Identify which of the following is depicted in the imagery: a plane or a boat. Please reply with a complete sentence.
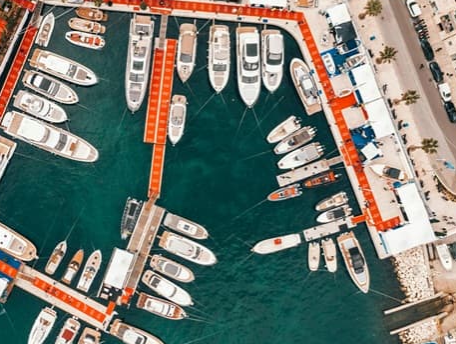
There is a boat in the scene.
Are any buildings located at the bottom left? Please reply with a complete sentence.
Yes, a building appears at the bottom left.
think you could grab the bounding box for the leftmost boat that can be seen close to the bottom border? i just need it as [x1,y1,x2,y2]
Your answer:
[27,303,57,344]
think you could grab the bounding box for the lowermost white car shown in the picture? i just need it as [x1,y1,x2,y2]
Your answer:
[436,82,454,103]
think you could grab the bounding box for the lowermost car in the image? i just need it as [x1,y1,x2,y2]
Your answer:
[443,101,456,124]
